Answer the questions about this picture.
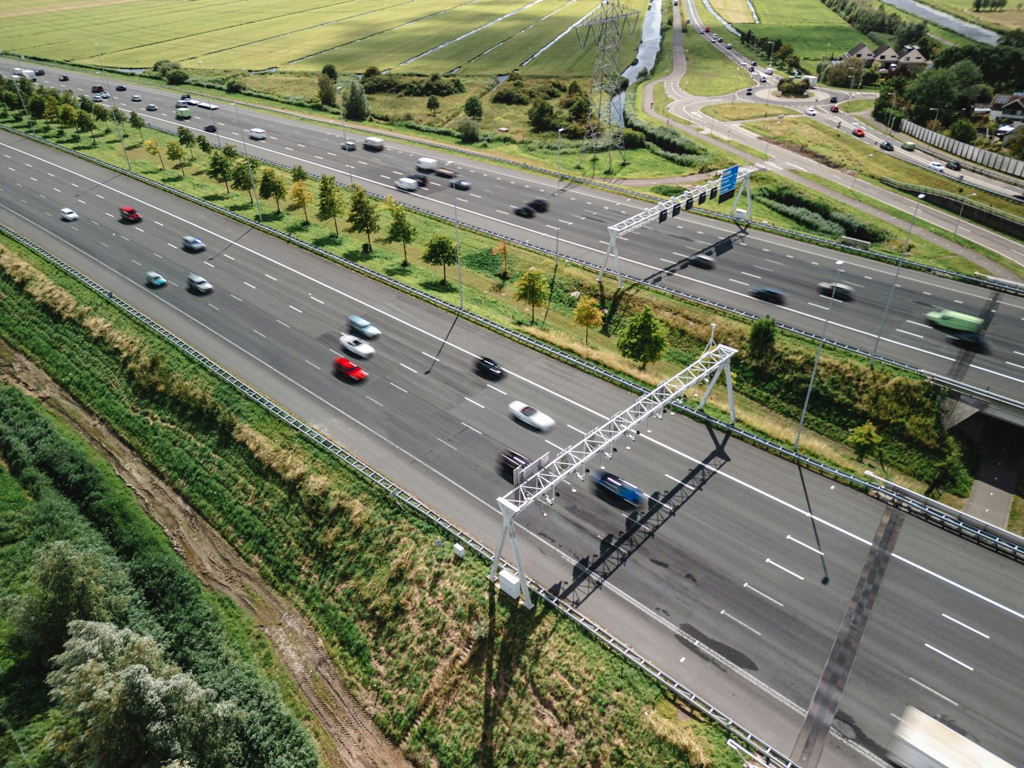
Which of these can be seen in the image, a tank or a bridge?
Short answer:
bridge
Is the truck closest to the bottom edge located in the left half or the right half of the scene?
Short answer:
right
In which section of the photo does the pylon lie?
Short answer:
top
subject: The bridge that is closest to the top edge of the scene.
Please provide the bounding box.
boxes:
[930,378,1024,468]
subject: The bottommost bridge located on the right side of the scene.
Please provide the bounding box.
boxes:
[858,483,1024,573]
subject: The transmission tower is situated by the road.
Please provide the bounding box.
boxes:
[576,0,638,173]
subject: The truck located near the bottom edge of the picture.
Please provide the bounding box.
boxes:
[878,709,1007,768]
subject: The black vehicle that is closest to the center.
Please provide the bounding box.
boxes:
[472,355,507,380]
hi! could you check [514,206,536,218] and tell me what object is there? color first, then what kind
black vehicle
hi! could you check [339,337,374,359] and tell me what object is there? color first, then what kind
white car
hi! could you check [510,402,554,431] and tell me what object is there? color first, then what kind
white car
